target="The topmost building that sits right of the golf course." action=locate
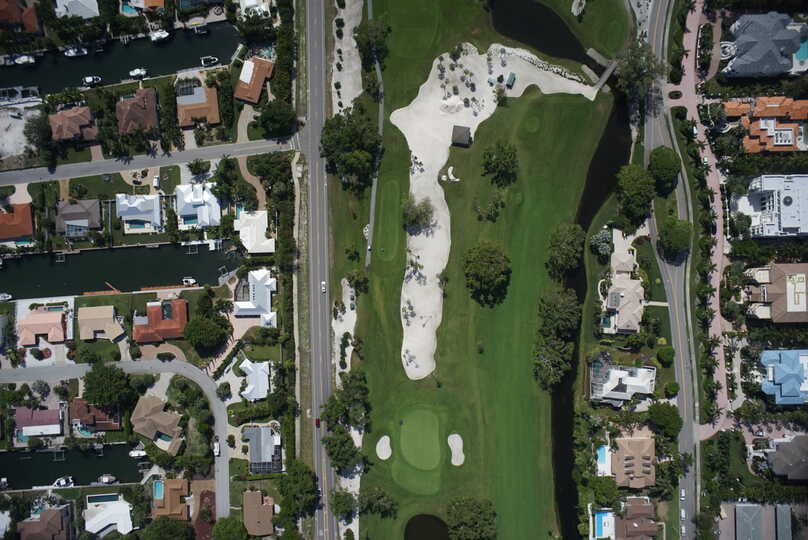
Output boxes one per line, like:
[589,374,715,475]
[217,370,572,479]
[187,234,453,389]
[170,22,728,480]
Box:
[720,10,801,77]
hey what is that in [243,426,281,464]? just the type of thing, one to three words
house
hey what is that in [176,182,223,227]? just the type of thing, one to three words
house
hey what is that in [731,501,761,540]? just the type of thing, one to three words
building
